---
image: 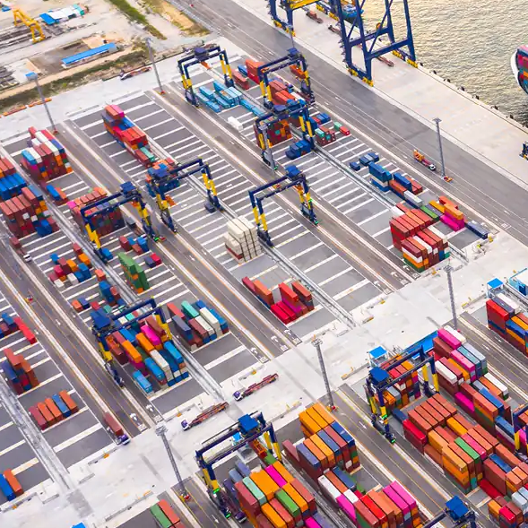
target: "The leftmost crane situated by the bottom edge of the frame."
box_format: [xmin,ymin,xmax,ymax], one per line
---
[202,417,287,519]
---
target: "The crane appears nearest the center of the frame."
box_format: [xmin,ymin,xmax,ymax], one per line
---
[249,168,315,246]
